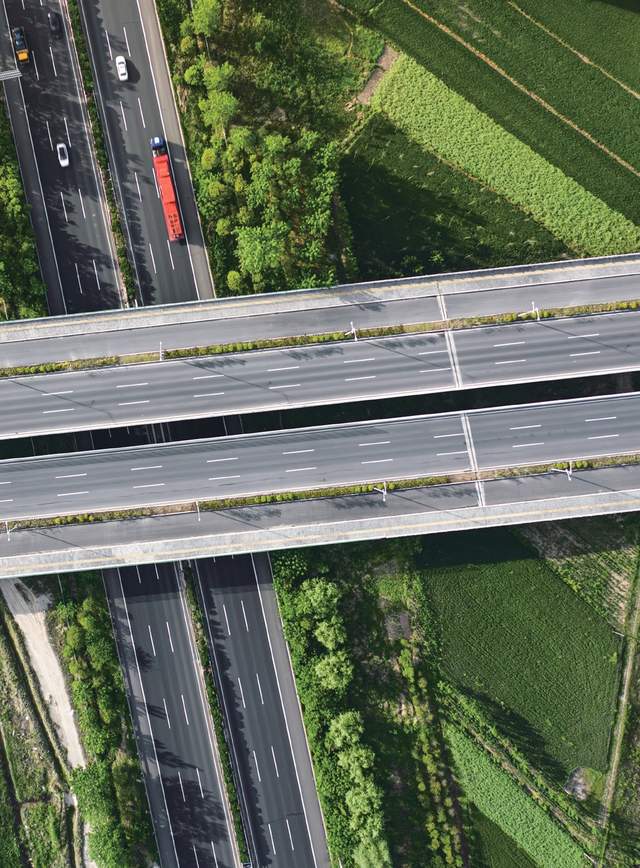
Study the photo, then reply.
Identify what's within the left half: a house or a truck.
truck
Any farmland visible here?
Yes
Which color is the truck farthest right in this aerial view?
red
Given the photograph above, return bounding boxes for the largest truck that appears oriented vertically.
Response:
[151,139,186,243]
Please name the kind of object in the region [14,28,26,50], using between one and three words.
vehicle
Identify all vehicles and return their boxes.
[115,57,127,80]
[12,26,31,65]
[58,142,70,167]
[14,28,26,50]
[151,139,186,243]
